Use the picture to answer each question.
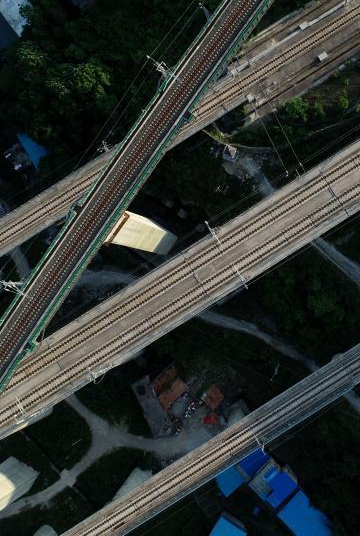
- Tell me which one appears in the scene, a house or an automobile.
house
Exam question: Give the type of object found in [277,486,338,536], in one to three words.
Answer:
building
